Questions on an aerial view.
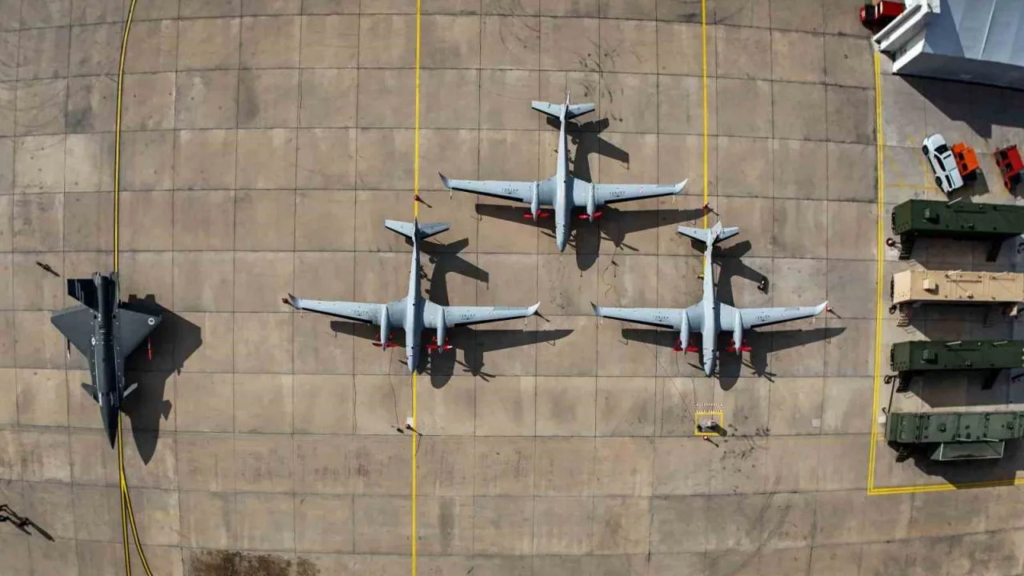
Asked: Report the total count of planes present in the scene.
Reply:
four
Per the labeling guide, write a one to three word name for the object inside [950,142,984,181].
work vehicle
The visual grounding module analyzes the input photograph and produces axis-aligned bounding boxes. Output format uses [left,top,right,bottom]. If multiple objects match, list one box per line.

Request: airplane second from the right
[439,87,691,251]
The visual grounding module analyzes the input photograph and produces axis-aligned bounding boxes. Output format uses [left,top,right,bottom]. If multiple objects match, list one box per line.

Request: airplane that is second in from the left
[289,214,540,371]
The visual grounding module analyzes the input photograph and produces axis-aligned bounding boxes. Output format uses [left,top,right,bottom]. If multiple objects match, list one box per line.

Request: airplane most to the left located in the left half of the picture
[50,269,161,449]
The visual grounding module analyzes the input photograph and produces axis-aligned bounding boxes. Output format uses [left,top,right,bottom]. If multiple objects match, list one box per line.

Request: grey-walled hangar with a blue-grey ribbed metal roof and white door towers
[880,0,1024,91]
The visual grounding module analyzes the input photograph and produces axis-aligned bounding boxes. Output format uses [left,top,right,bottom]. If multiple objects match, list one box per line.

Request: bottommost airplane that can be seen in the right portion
[593,217,833,375]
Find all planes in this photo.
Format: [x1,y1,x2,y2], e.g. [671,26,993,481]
[50,269,161,449]
[439,87,691,251]
[289,214,540,371]
[593,217,833,375]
